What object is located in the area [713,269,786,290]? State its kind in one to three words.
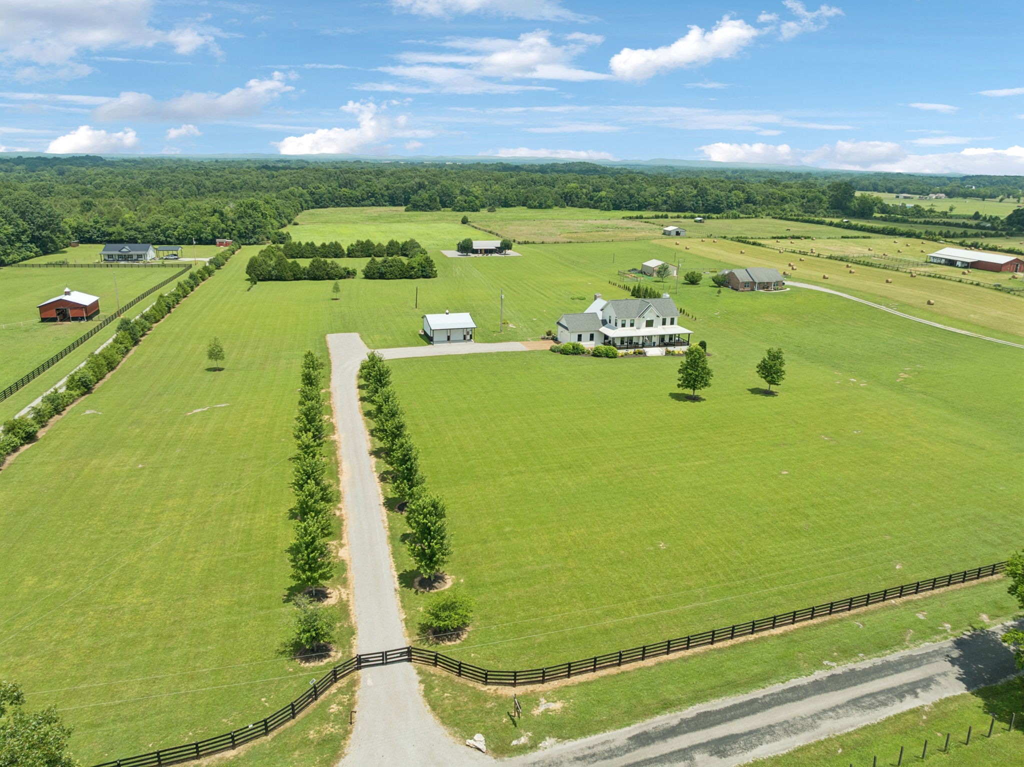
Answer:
house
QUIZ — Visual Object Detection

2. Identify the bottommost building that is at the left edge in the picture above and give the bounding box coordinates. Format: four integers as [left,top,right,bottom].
[37,287,101,322]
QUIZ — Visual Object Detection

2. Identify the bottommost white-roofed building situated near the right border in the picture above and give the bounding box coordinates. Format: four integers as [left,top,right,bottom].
[924,249,1022,272]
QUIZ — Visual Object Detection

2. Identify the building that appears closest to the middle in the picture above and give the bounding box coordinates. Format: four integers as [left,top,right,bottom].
[421,308,478,345]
